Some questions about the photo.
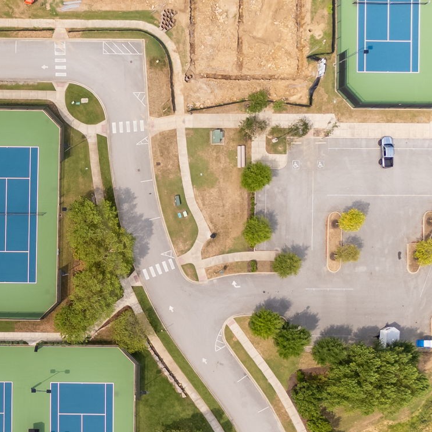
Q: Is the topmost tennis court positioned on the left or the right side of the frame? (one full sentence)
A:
The topmost tennis court appears in the right half of the scene.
